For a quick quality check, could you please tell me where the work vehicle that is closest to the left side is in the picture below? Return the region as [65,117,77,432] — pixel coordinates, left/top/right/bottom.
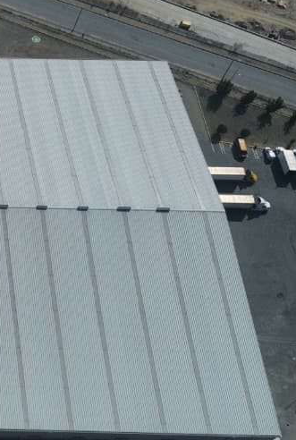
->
[179,17,195,30]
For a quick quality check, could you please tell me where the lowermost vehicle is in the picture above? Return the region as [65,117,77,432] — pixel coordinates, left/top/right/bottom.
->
[219,195,275,214]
